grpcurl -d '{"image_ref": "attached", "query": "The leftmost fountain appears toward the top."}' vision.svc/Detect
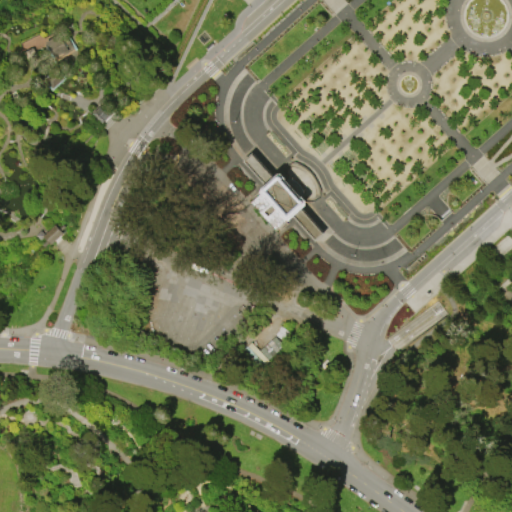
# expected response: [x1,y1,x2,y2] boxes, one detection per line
[398,72,422,96]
